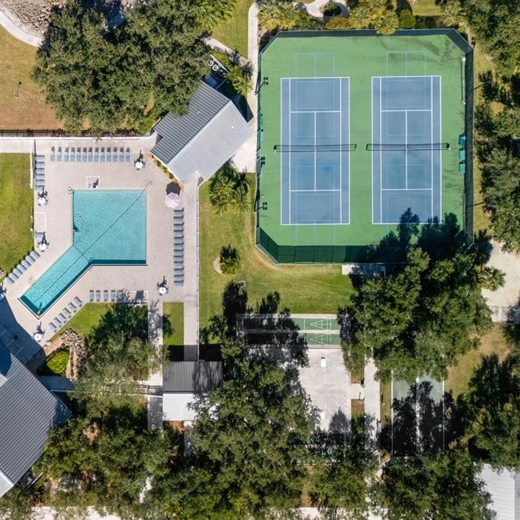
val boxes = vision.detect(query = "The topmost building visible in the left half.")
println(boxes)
[141,80,253,192]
